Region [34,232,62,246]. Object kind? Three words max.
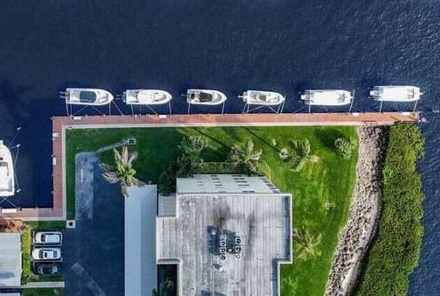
car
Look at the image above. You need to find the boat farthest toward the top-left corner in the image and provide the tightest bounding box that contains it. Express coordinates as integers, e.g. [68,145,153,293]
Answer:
[57,88,114,106]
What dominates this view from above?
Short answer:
water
